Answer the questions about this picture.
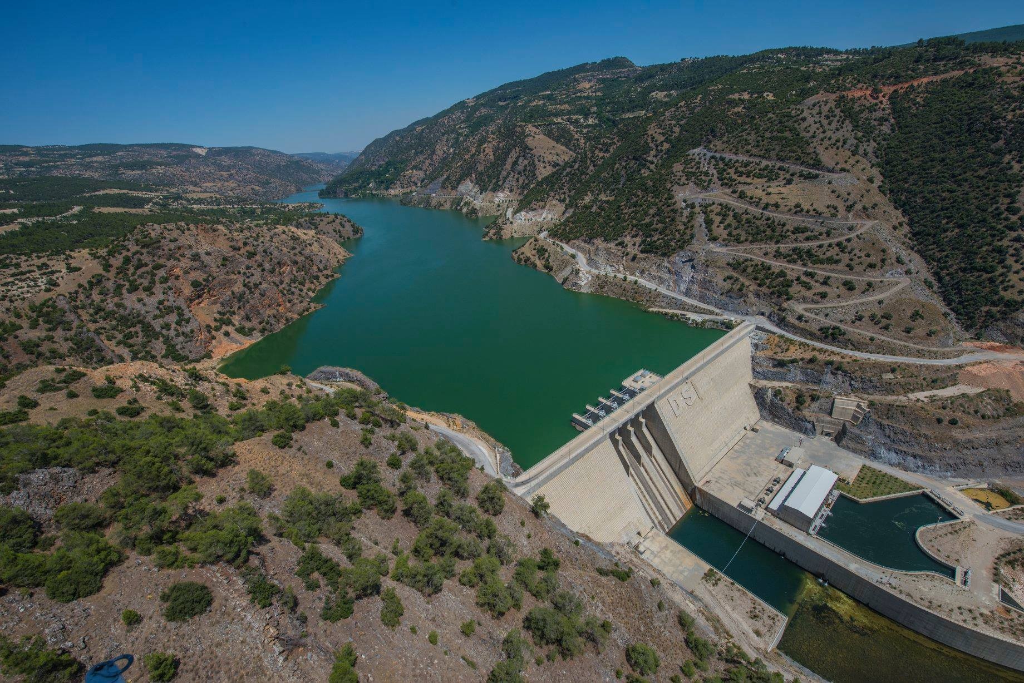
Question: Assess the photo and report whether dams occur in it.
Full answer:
Yes, this view includes a dam.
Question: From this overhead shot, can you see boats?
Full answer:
No, the photo shows no boat.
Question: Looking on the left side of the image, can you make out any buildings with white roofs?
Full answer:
No, there's no building with a white roof to be seen on the left side of the image.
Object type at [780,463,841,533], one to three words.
building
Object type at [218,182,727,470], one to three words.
pond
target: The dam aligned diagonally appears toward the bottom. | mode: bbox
[503,319,760,551]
